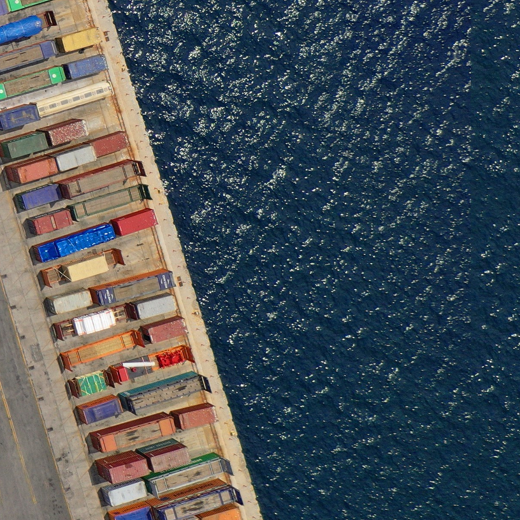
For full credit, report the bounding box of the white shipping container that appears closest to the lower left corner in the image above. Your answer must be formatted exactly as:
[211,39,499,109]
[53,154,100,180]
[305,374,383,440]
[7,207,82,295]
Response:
[100,476,149,507]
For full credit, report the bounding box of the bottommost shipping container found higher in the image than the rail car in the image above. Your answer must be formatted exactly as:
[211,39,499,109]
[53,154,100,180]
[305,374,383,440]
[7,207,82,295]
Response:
[63,55,109,81]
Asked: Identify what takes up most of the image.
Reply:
water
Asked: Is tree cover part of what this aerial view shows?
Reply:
No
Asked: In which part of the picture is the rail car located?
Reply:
top left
